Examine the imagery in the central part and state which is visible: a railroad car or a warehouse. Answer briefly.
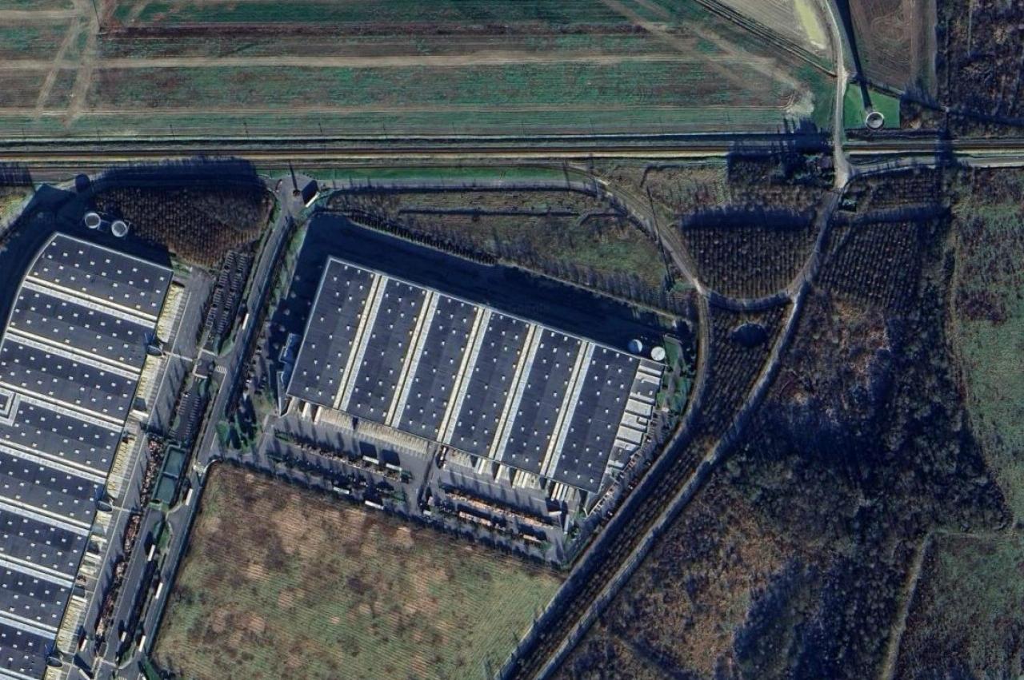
warehouse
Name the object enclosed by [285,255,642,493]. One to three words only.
warehouse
